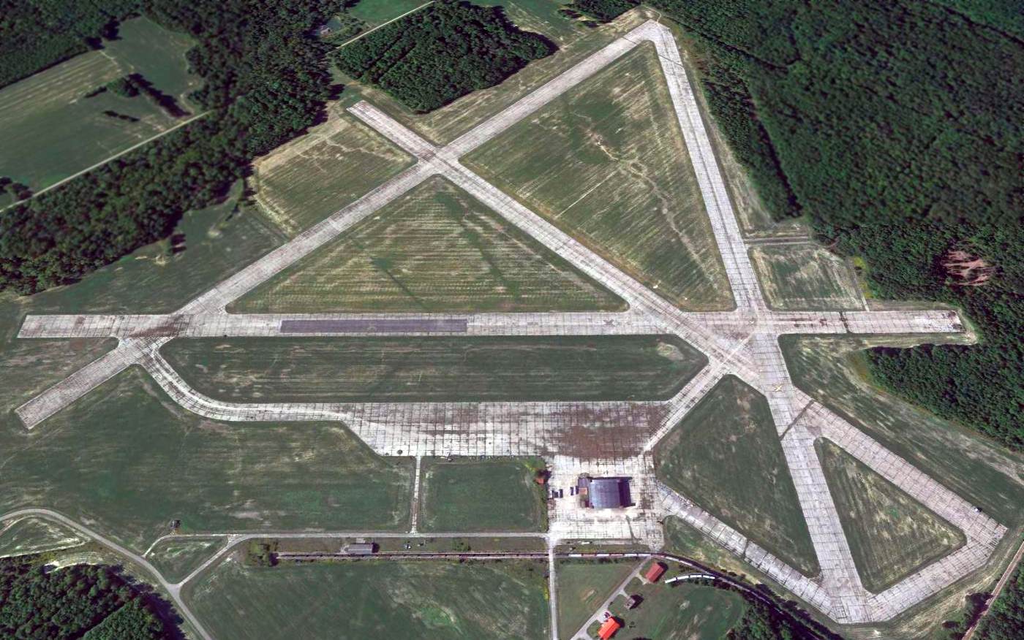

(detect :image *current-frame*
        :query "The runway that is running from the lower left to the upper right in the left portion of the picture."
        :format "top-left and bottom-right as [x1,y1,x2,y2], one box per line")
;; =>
[15,20,652,429]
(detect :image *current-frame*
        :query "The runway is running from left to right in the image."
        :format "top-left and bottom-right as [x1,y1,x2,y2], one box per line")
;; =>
[18,295,966,349]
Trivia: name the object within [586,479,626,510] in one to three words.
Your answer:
hangar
